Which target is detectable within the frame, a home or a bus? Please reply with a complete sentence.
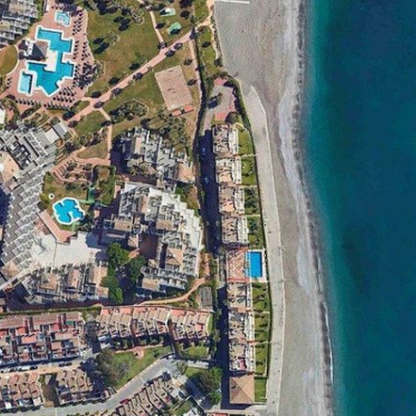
The image shows a home.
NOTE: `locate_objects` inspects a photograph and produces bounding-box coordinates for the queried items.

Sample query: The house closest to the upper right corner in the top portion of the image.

[213,125,239,154]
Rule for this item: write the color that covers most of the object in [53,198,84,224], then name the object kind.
blue swimming pool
